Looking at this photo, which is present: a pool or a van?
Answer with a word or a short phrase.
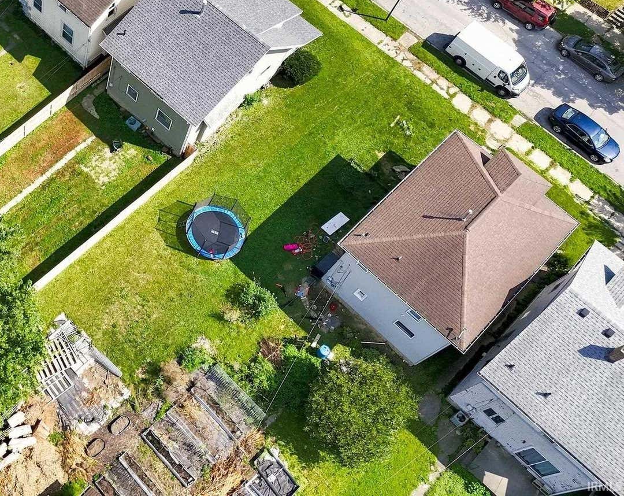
van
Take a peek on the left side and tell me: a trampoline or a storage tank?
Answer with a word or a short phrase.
trampoline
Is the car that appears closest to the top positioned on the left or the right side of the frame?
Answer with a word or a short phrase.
right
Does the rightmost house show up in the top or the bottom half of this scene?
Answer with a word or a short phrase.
bottom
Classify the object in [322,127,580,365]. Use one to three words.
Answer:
house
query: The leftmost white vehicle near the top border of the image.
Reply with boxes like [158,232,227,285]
[450,22,536,101]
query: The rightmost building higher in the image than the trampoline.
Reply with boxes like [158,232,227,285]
[99,0,320,154]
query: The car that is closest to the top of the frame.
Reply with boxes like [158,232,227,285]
[493,0,558,32]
